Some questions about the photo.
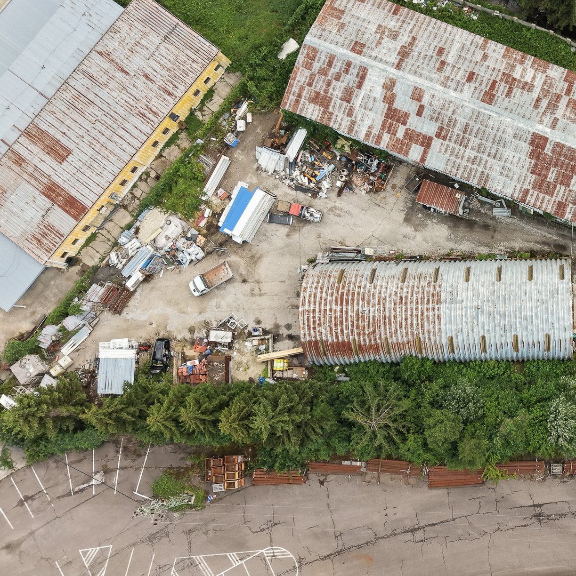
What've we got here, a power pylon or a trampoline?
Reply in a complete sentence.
There is a power pylon in the scene.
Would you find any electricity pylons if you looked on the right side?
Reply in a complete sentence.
No, looking on the right side, there is no electricity pylon.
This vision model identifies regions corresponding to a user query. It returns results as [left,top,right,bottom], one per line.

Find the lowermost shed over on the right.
[300,259,573,362]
